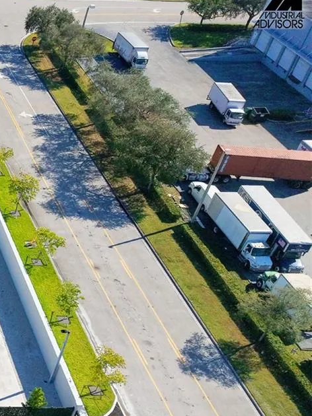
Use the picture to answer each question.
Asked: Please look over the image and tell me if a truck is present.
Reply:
Yes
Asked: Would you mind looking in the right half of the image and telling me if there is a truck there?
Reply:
Yes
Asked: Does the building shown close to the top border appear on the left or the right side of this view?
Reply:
right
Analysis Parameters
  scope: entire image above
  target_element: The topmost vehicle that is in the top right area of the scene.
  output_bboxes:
[209,84,247,129]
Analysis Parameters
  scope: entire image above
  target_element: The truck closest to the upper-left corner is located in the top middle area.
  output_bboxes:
[115,33,149,71]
